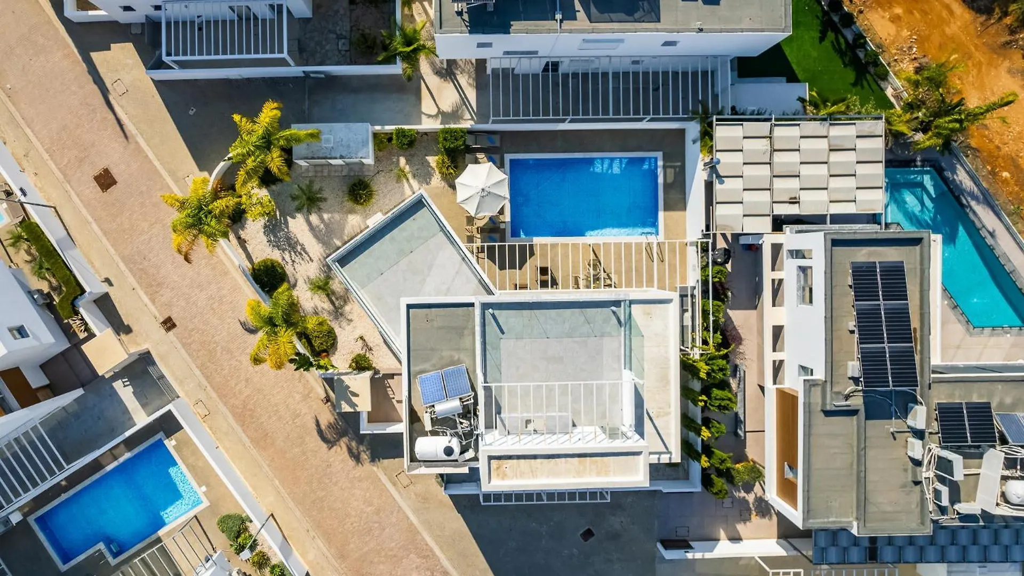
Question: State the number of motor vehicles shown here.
none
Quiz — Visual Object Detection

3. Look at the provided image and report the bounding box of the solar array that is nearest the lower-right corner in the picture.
[932,402,997,445]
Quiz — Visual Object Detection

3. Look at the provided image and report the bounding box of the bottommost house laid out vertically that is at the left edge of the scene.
[0,257,69,410]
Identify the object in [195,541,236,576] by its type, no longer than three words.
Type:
building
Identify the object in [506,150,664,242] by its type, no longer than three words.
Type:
swimming pool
